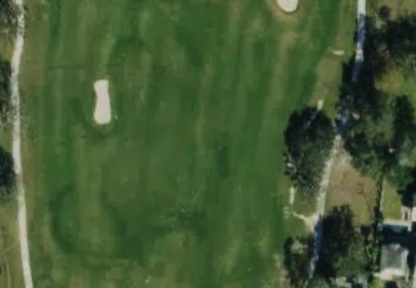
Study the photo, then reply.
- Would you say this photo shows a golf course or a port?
golf course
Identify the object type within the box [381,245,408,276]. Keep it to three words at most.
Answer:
shed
